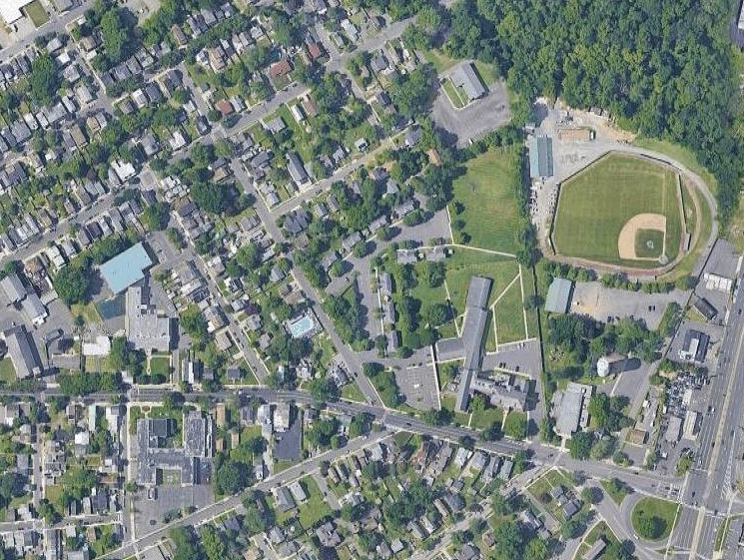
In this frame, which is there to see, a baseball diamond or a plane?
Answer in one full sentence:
It is a baseball diamond that can be seen here.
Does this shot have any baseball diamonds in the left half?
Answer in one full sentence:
No, I can find no baseball diamond in the left half.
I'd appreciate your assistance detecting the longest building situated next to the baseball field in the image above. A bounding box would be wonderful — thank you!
[455,277,492,412]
